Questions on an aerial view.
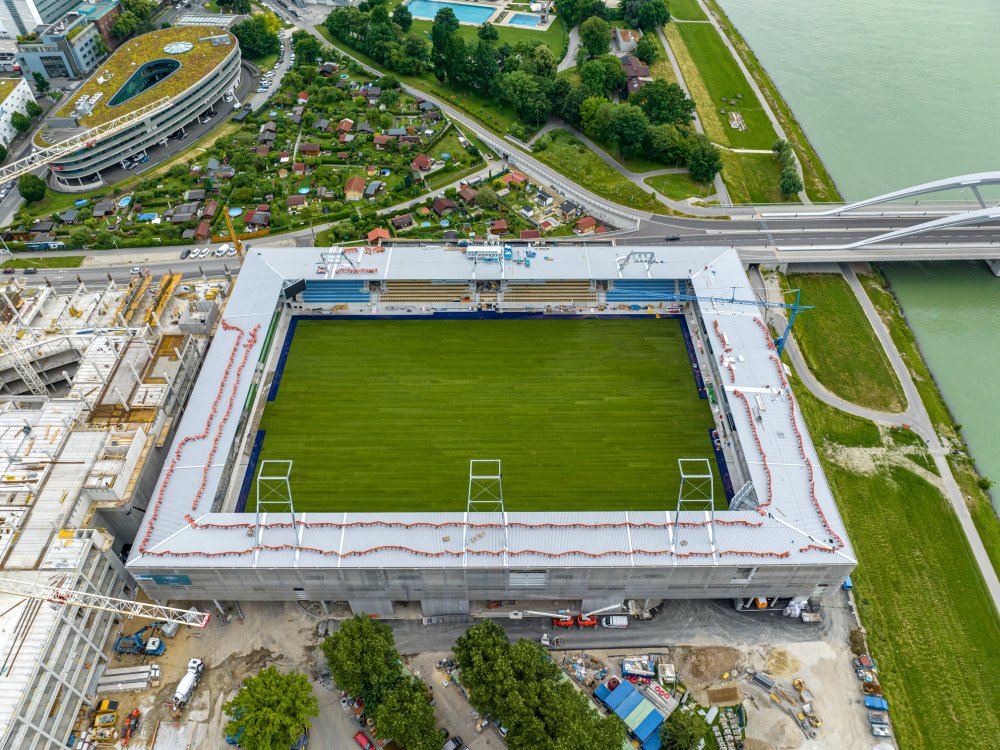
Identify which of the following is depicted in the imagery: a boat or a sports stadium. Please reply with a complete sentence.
There is a sports stadium in the scene.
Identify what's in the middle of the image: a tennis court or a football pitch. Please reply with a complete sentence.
Visible in the middle of the image is a football pitch.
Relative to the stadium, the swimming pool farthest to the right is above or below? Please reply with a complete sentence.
As seen from overhead, the swimming pool farthest to the right falls above the stadium in the picture.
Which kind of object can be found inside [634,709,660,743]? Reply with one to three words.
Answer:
building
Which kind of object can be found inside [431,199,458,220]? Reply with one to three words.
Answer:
shed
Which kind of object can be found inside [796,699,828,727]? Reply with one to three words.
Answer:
work vehicle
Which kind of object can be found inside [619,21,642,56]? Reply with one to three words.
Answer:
building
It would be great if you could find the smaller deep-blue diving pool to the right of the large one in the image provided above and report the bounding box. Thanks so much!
[501,8,554,30]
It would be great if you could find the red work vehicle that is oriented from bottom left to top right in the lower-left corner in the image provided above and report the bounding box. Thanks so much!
[113,699,152,740]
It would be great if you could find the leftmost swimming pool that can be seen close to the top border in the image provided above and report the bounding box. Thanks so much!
[403,0,514,27]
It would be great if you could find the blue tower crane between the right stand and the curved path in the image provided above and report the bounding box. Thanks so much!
[605,267,845,358]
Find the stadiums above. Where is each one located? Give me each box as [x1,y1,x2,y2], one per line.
[124,246,857,622]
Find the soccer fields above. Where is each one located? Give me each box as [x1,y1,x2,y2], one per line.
[233,311,733,511]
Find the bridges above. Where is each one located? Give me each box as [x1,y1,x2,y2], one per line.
[729,174,1000,297]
